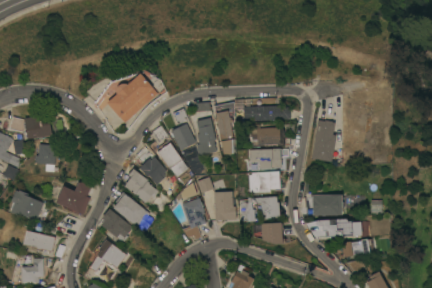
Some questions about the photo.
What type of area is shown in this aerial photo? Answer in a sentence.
This image shows a residential area.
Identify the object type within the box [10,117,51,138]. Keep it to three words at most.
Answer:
house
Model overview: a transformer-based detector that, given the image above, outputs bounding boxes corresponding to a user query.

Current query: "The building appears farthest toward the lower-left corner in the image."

[20,255,46,284]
